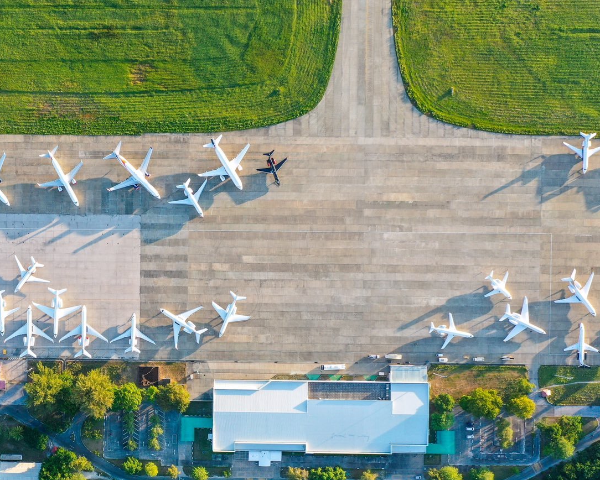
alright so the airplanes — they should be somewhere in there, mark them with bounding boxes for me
[198,134,250,189]
[211,292,251,337]
[60,306,108,357]
[39,147,83,206]
[4,306,54,357]
[112,313,157,354]
[0,291,20,336]
[432,313,473,348]
[562,323,600,368]
[31,288,81,337]
[256,149,288,186]
[106,143,161,199]
[501,295,546,342]
[556,270,597,316]
[161,305,208,348]
[562,131,600,174]
[484,270,511,299]
[170,175,208,217]
[14,254,51,292]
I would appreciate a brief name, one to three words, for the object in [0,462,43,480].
house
